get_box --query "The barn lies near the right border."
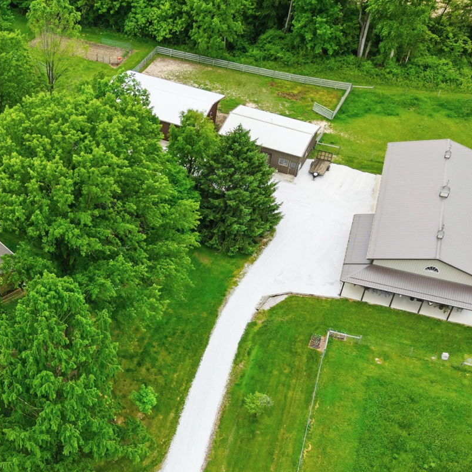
[339,138,472,326]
